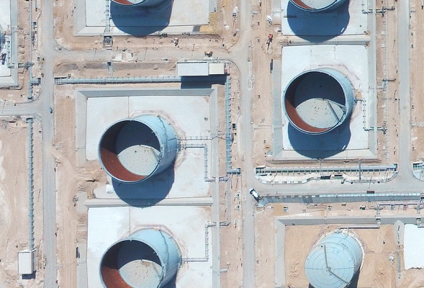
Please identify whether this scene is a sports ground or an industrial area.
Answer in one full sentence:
This image shows an industrial area.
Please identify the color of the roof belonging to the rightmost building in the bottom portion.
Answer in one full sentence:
From above, the roof of the rightmost building in the bottom portion looks white.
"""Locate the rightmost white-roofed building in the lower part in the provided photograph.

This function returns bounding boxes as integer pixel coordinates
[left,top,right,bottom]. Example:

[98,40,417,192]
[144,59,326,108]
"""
[19,250,39,274]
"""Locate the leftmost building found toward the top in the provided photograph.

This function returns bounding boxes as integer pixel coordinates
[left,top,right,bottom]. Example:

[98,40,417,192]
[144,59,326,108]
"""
[177,61,212,76]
